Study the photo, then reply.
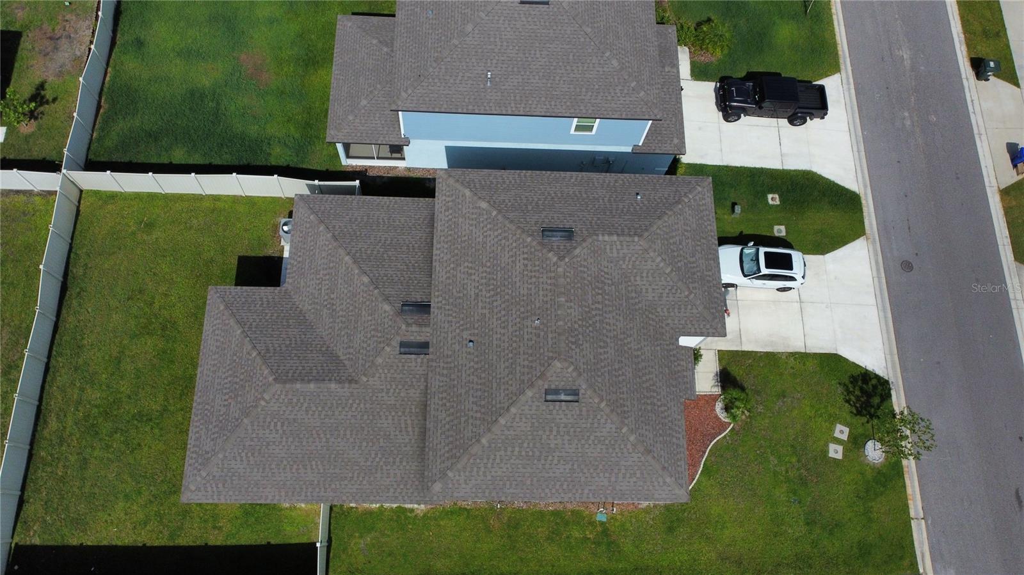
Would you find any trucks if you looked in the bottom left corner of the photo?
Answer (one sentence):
No, the scene shows no truck in the bottom left corner of the photo.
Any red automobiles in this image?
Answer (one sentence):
No, the photo shows no red automobile.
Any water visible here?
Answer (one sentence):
No, water can't be seen anywhere here.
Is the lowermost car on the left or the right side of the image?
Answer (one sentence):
You can find the lowermost car on the right side of the picture.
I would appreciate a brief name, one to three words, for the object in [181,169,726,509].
house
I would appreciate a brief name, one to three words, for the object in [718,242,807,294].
car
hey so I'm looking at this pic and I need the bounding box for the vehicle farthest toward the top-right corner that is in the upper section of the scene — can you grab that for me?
[716,76,829,126]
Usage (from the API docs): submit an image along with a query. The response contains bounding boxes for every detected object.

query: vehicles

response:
[718,242,807,294]
[716,76,829,126]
